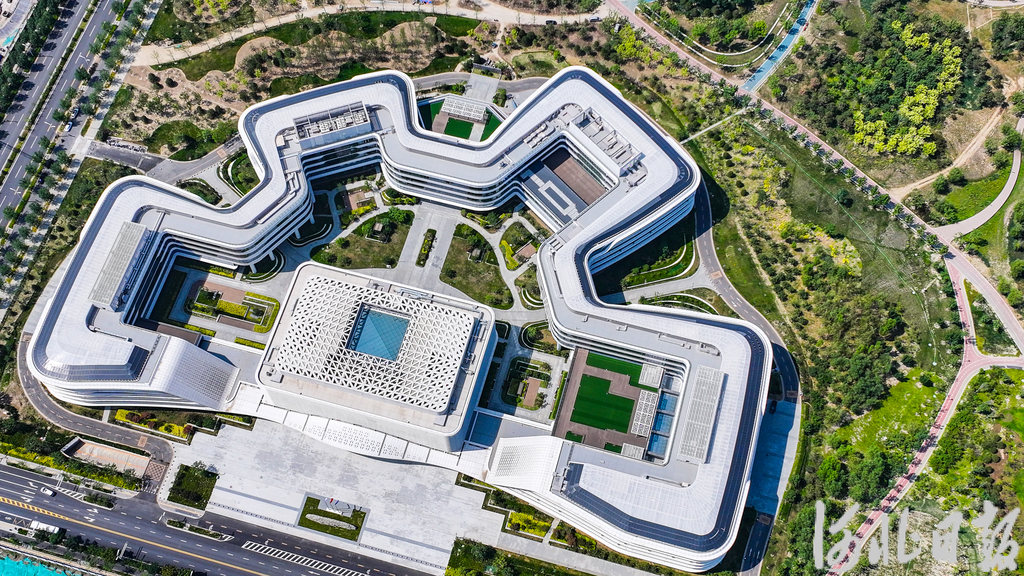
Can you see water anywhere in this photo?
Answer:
No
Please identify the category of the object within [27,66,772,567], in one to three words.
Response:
building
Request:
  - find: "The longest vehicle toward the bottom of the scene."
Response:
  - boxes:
[28,518,60,533]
